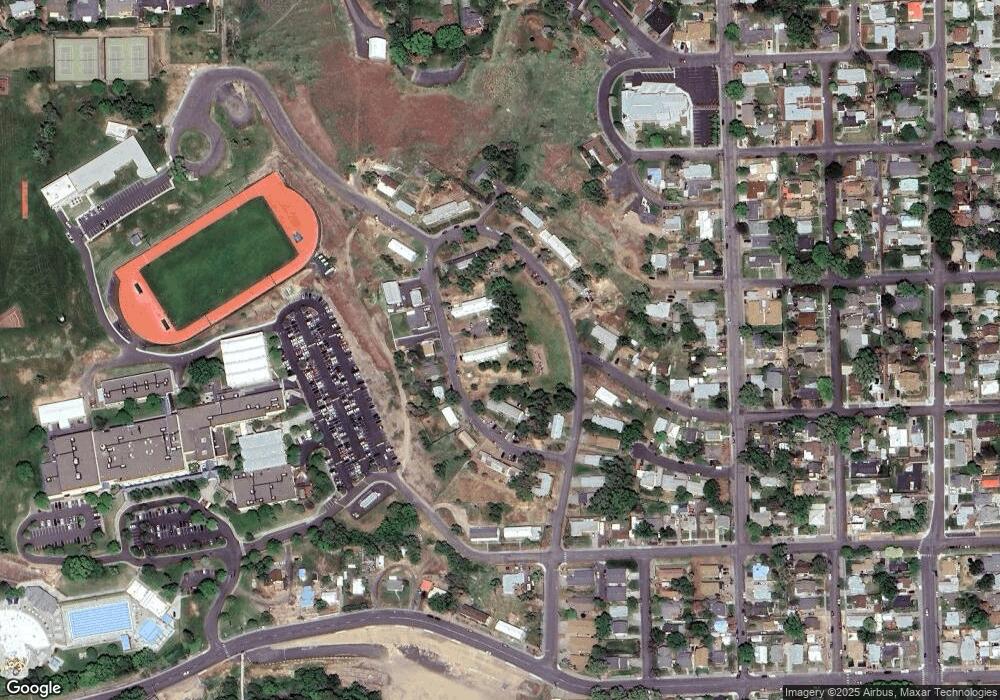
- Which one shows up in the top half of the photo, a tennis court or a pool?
tennis court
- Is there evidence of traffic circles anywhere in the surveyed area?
Yes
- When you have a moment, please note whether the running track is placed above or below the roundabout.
below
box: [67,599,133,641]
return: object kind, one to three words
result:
swimming pool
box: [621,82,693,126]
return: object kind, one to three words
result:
building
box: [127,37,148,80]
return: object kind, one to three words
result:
tennis court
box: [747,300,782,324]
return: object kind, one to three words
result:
house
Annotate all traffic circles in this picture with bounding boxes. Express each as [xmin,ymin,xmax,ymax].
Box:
[166,117,222,173]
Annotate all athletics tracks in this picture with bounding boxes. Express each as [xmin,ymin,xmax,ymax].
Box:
[116,173,319,345]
